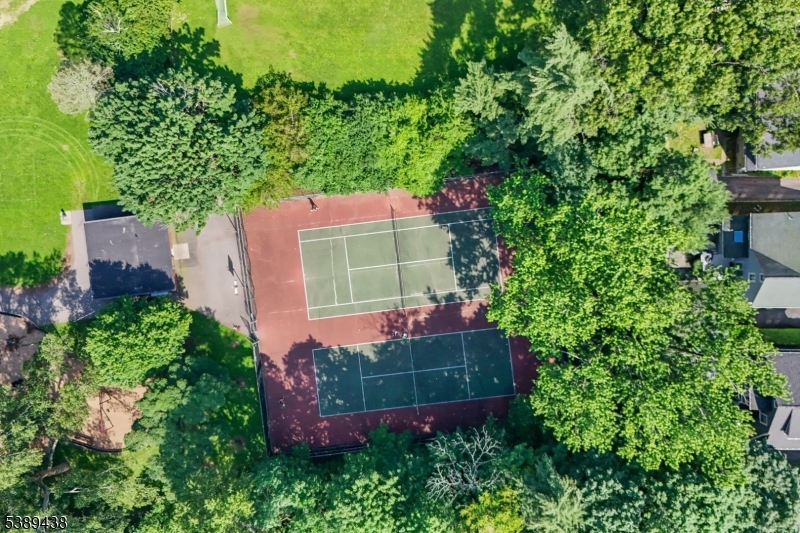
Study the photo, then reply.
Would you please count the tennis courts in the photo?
2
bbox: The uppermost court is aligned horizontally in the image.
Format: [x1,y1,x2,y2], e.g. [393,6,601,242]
[244,175,553,341]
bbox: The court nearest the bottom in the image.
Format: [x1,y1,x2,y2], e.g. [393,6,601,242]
[259,307,566,453]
